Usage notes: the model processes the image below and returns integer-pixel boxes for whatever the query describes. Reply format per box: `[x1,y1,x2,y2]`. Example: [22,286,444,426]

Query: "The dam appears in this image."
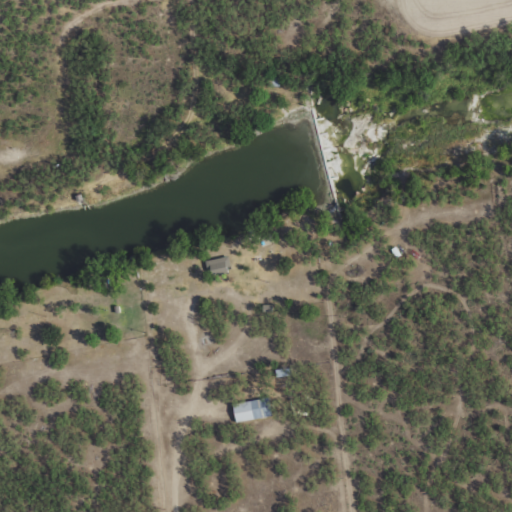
[310,92,342,214]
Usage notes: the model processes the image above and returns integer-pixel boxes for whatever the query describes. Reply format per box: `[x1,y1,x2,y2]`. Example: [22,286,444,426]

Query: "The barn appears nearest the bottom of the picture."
[234,400,272,423]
